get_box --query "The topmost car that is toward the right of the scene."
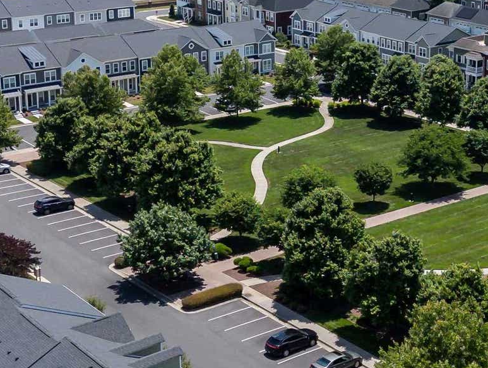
[264,329,322,359]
